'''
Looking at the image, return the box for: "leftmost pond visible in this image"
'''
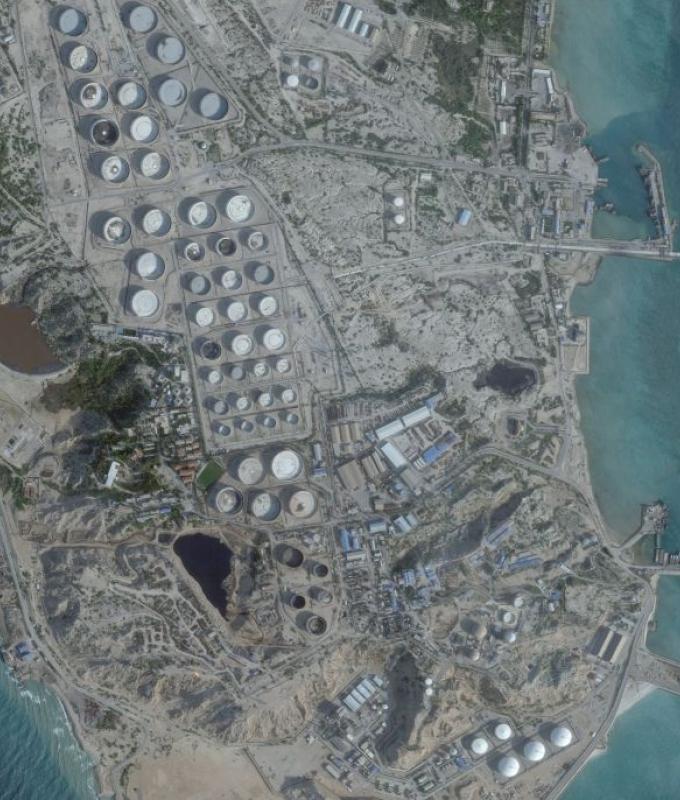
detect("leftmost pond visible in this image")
[0,303,66,374]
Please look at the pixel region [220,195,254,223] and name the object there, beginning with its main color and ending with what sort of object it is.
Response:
white storage tank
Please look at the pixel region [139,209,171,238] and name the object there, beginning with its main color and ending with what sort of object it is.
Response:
white storage tank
